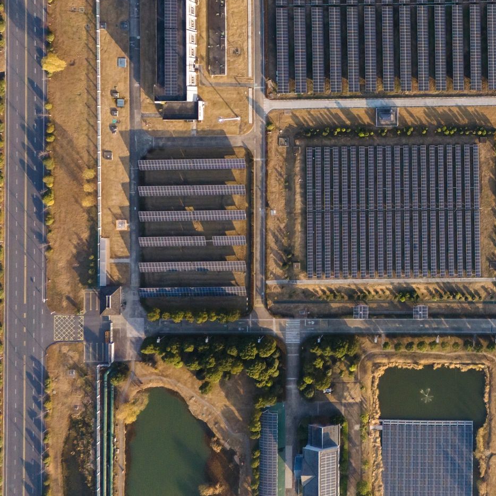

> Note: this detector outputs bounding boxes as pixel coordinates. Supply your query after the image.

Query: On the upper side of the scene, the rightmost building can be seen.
[209,0,228,76]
